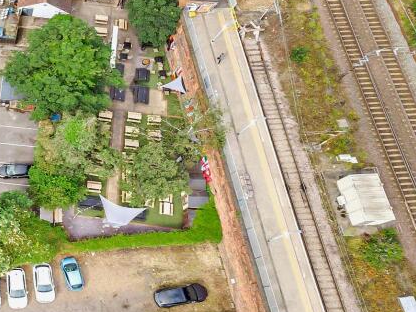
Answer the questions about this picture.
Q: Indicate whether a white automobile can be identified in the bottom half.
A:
Yes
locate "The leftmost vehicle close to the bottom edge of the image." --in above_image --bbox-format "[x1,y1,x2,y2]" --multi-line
[6,268,29,309]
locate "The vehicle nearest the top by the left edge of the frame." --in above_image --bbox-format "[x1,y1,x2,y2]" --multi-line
[0,161,34,180]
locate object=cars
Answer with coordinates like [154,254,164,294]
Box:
[152,282,210,311]
[0,161,34,180]
[33,263,55,304]
[6,268,29,309]
[60,256,83,292]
